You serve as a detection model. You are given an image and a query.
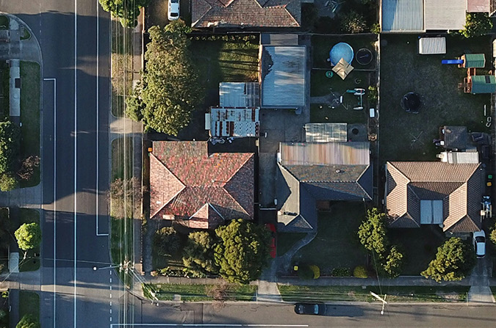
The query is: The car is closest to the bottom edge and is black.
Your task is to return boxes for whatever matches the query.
[292,302,326,317]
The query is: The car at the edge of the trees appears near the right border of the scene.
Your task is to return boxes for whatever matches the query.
[471,233,486,259]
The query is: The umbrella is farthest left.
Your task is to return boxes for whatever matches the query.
[331,57,352,79]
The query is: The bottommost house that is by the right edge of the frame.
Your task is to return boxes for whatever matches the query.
[383,160,484,233]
